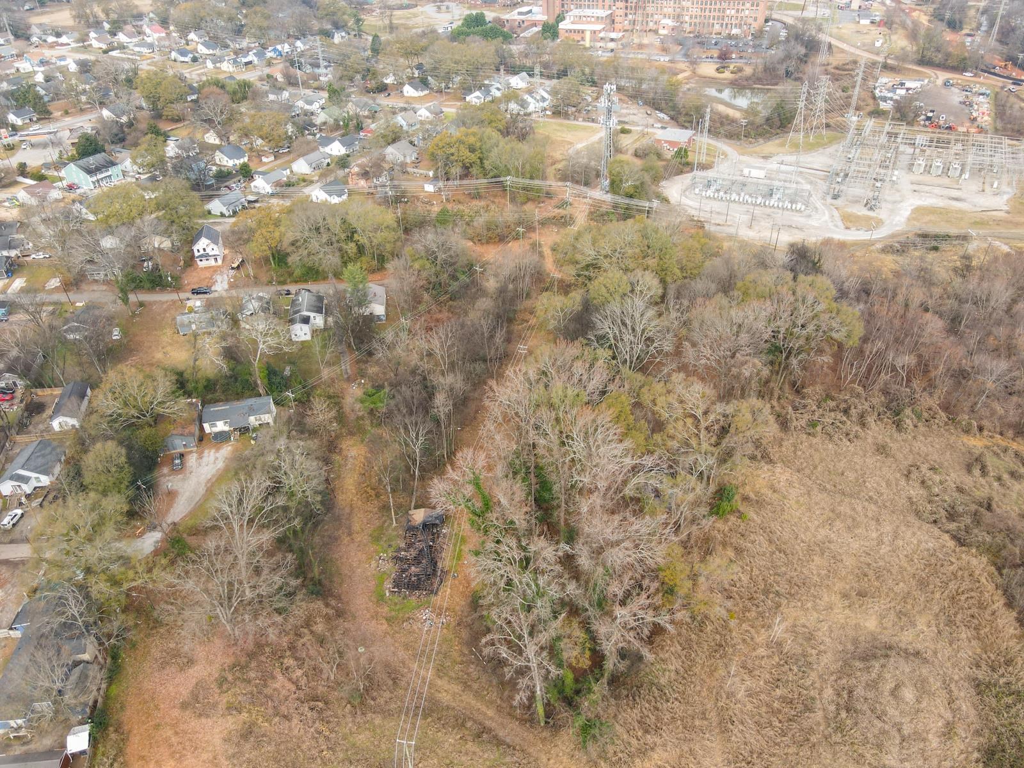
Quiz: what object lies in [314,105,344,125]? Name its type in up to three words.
house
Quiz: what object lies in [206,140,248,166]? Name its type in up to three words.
house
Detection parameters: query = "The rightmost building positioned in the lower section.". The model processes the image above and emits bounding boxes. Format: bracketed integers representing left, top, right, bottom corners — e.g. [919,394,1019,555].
[377,506,453,602]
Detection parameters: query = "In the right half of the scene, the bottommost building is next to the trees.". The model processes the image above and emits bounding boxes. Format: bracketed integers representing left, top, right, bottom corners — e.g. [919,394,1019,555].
[653,131,694,152]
